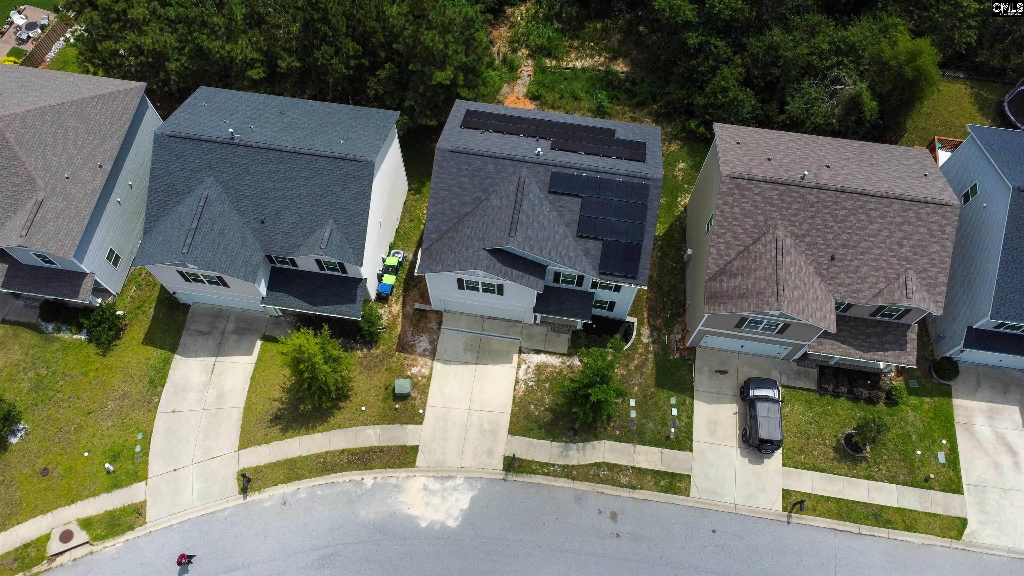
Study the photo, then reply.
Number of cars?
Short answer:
1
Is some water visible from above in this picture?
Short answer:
No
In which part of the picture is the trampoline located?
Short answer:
top right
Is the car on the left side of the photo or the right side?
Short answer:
right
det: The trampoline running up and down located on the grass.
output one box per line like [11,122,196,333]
[999,73,1024,130]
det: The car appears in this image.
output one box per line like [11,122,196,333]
[740,377,784,452]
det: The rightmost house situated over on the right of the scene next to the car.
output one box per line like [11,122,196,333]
[683,122,960,374]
